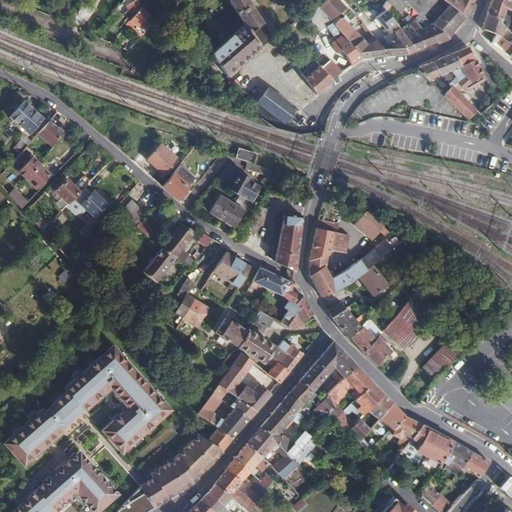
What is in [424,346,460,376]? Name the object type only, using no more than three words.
barn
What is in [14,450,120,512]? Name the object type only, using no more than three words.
building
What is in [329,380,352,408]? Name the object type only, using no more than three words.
house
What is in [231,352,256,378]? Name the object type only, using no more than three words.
house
